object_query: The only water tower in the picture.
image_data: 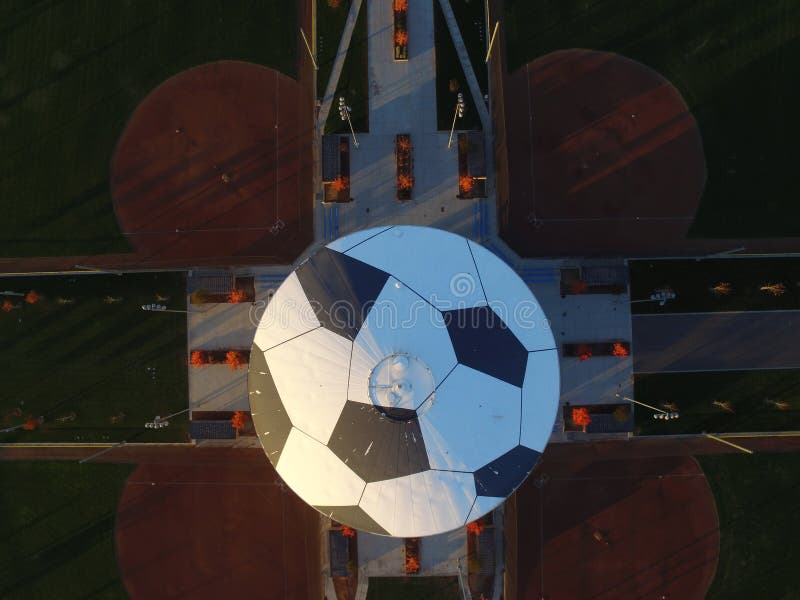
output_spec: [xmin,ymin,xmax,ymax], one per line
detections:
[249,225,562,538]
